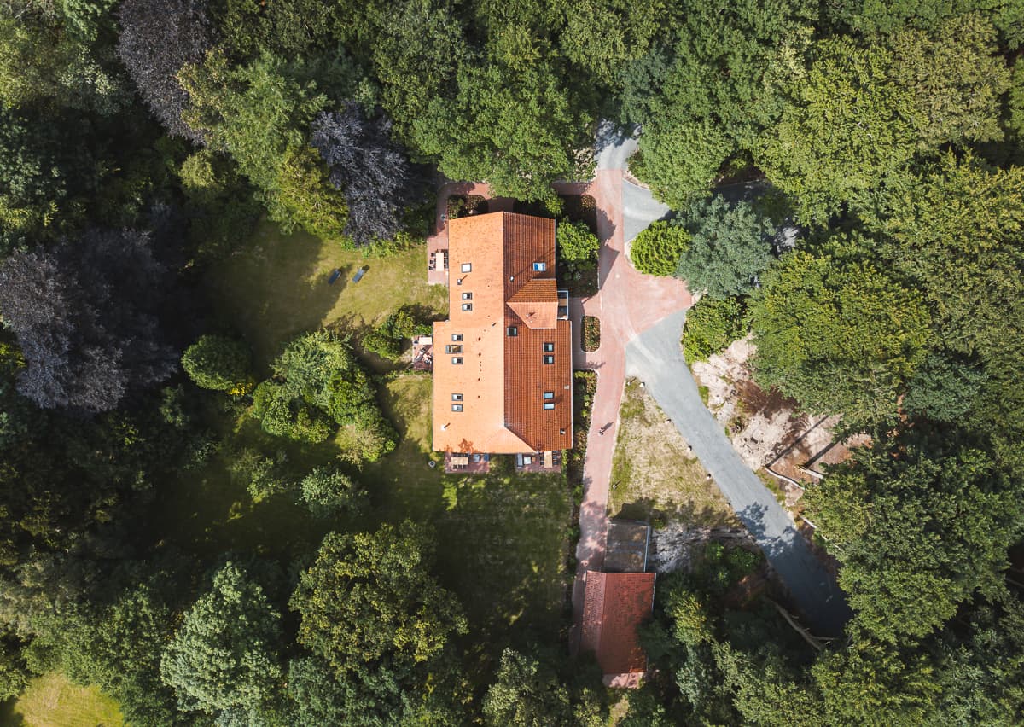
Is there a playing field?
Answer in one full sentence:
No, there is no playing field in the image.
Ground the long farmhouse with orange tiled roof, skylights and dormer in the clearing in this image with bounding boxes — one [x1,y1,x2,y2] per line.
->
[431,213,574,454]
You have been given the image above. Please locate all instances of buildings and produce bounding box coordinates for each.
[580,565,653,673]
[431,213,574,454]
